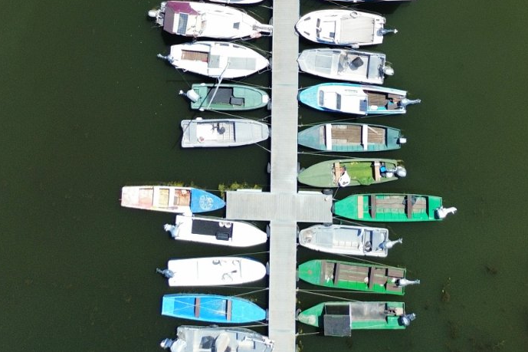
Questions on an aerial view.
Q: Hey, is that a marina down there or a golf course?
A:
marina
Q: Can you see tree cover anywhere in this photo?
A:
No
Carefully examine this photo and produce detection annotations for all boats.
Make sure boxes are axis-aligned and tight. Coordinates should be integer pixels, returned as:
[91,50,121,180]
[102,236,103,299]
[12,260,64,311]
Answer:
[296,0,396,48]
[182,116,271,151]
[298,260,418,293]
[299,218,403,271]
[122,184,226,216]
[144,1,273,43]
[298,123,413,154]
[164,213,269,249]
[160,40,271,107]
[297,45,401,85]
[298,153,417,195]
[159,322,274,352]
[159,251,268,289]
[328,192,457,221]
[162,289,268,324]
[298,290,421,335]
[174,83,271,125]
[298,81,419,126]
